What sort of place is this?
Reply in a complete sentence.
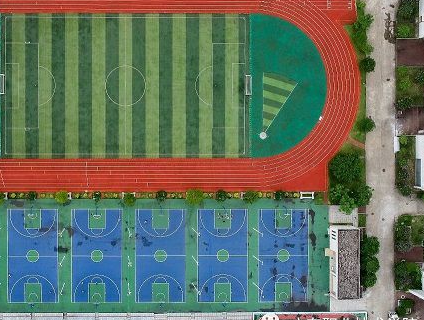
What you see here is a sports ground.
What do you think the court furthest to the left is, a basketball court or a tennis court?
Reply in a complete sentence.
The court furthest to the left appears to be a basketball court.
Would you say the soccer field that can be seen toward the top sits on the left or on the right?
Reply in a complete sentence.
You can find the soccer field that can be seen toward the top on the left side of the picture.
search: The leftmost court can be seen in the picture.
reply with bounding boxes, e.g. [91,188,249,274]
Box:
[7,209,58,303]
